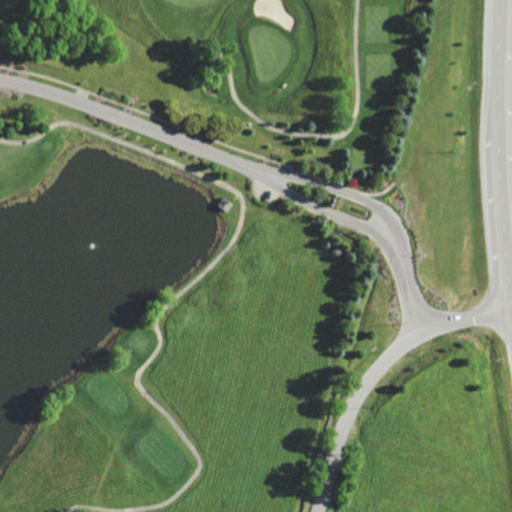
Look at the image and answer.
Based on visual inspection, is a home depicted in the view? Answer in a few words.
No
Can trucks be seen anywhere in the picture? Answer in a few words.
No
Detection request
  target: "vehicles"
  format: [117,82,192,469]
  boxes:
[450,316,462,320]
[260,192,270,202]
